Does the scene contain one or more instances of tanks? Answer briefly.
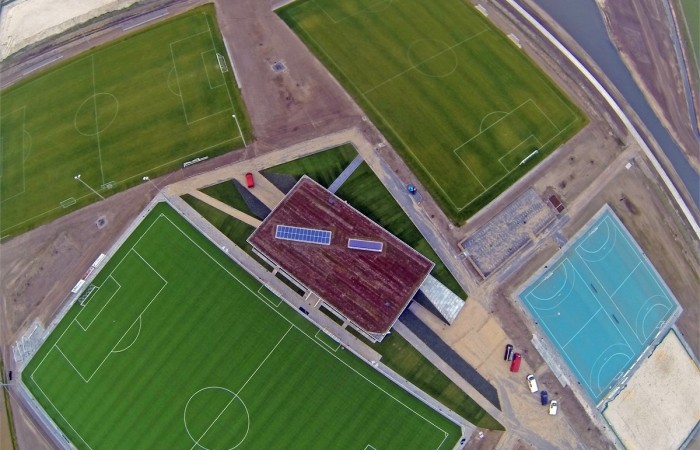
No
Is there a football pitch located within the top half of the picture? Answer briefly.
Yes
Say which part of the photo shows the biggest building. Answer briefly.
center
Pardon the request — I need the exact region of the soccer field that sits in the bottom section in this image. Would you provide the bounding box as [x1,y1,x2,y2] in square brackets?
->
[21,201,462,450]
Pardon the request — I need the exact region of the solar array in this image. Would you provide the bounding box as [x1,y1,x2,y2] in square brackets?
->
[275,225,332,245]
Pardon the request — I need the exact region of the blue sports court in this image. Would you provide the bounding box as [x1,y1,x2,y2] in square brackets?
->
[515,202,683,412]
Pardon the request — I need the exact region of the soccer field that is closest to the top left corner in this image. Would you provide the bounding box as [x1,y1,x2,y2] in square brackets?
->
[0,3,253,243]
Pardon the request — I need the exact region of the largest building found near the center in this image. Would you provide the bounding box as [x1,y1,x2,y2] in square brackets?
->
[247,175,435,344]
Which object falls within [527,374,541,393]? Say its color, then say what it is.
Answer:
white vehicle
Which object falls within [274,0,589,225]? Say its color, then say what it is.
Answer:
green soccer field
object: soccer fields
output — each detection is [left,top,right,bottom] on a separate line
[274,0,589,225]
[0,3,253,243]
[21,201,462,450]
